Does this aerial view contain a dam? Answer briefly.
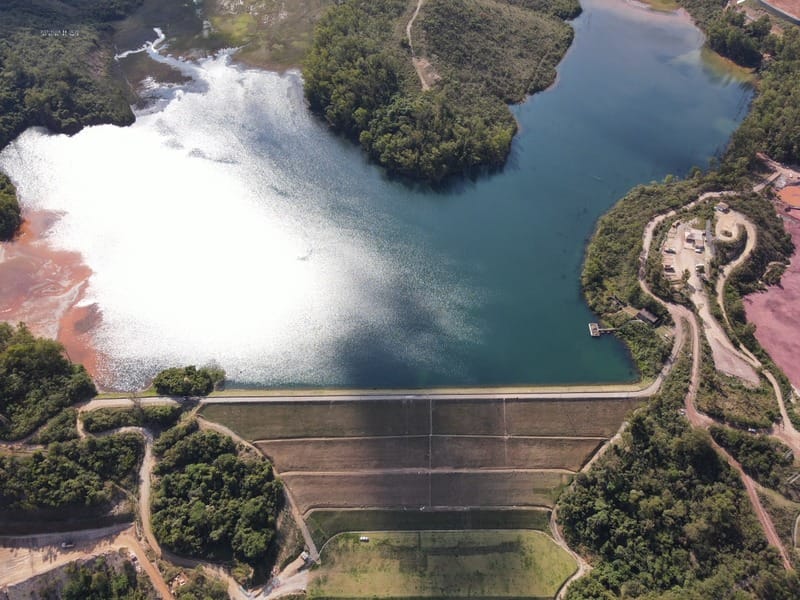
Yes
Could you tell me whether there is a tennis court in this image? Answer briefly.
No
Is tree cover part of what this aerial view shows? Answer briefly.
Yes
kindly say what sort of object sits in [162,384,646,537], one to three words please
dam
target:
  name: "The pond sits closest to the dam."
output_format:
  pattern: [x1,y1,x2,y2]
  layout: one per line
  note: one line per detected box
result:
[747,218,800,397]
